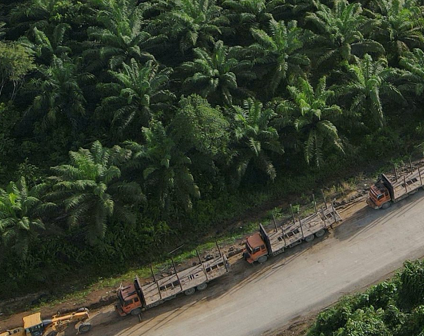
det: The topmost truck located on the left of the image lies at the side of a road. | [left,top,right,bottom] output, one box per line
[112,245,223,317]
